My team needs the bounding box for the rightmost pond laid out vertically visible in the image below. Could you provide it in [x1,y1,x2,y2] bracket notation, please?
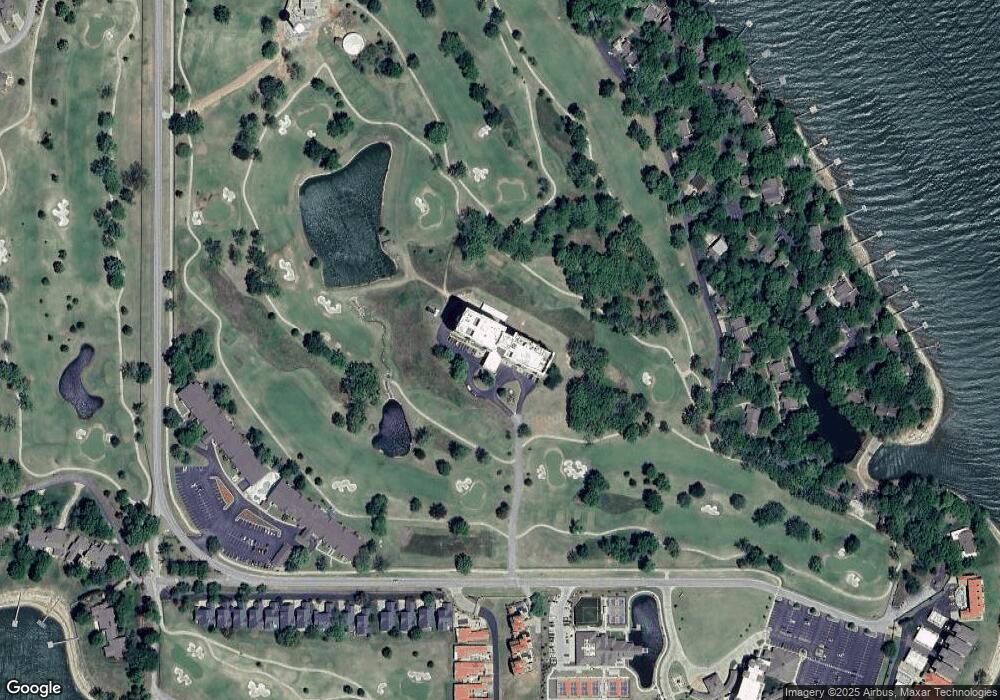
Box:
[628,595,662,686]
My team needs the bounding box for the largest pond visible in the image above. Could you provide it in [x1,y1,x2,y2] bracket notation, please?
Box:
[299,142,396,286]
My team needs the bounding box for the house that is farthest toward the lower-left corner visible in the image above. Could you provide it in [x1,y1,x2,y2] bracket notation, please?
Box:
[88,605,126,658]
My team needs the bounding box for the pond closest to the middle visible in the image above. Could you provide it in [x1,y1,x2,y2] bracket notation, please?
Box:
[372,398,411,457]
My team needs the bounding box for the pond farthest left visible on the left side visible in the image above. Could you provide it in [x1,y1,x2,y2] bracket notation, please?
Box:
[59,344,104,419]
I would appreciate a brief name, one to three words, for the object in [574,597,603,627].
tennis court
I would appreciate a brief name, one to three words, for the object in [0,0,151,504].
golf course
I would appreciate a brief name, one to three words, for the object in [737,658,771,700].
building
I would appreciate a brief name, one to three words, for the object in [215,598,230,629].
house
